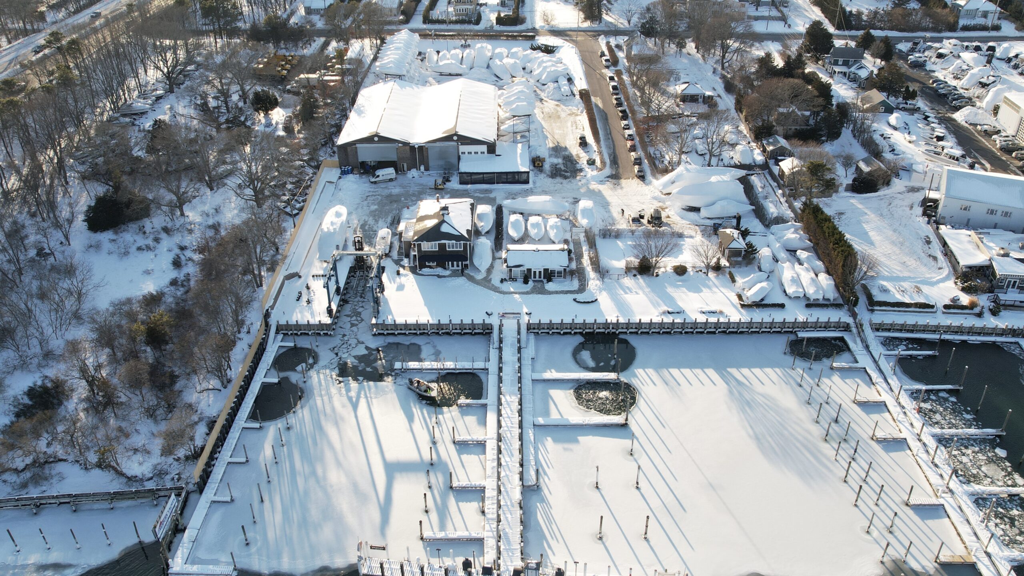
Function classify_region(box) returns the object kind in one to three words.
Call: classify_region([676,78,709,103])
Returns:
house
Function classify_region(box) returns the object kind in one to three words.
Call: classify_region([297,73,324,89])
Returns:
vehicle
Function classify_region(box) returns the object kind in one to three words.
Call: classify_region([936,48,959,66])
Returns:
boat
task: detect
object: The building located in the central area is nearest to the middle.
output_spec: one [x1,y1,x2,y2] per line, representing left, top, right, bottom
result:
[499,242,569,280]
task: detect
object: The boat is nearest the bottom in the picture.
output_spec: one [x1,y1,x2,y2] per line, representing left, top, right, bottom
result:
[406,381,440,399]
